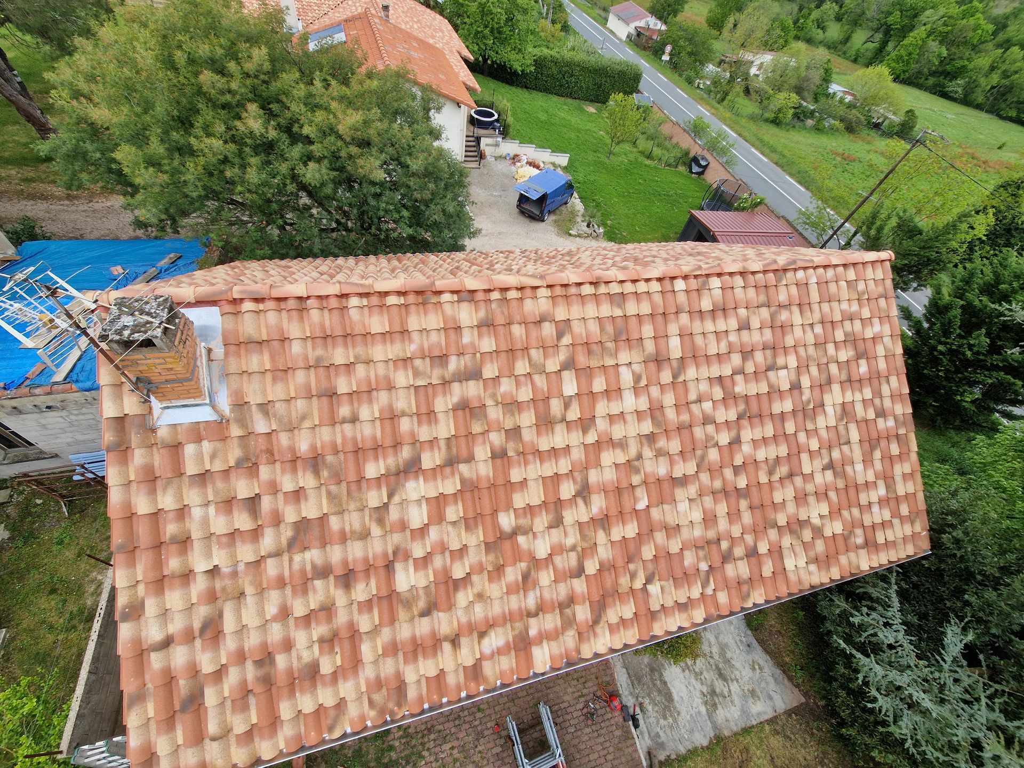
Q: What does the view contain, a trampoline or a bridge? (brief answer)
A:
trampoline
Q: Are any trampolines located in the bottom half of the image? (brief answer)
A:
No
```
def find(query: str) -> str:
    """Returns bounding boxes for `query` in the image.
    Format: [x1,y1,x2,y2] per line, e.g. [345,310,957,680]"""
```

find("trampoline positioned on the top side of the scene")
[704,169,758,212]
